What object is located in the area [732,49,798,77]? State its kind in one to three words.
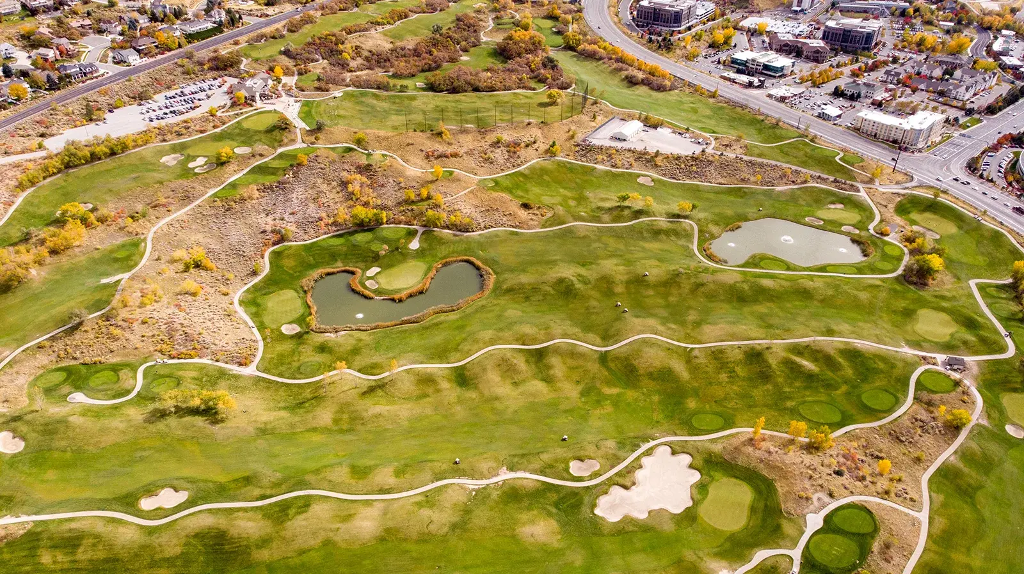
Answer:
building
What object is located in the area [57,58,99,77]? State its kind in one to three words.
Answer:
house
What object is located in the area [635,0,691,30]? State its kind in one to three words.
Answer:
building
